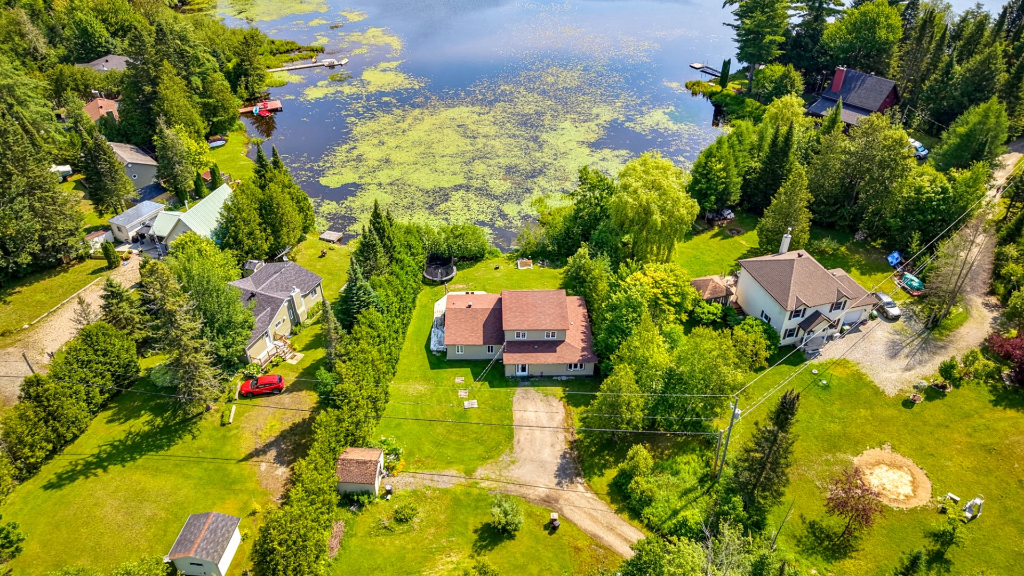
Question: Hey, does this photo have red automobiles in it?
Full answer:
Yes, the image includes a red automobile.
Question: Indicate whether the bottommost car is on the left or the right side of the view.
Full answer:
The bottommost car sits on the left side.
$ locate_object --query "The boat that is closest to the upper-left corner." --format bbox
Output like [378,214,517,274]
[46,168,73,181]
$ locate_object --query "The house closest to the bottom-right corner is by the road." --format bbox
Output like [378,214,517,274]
[730,228,879,360]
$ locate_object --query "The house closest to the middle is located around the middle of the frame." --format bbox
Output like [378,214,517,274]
[443,290,598,383]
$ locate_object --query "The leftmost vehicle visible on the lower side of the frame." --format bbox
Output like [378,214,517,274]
[239,373,284,397]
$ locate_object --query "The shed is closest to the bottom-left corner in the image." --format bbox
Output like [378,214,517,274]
[162,511,241,576]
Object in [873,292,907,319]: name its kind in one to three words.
car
